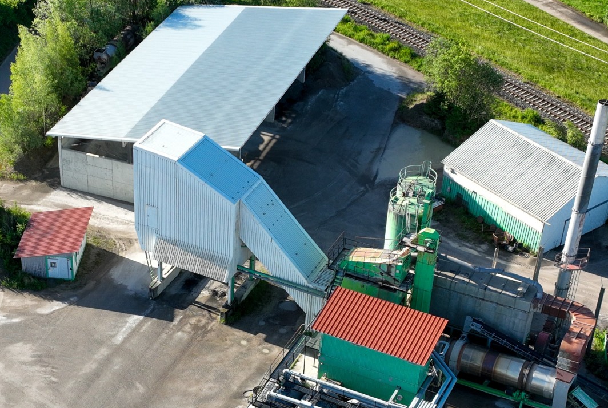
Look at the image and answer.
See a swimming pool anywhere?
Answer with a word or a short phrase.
No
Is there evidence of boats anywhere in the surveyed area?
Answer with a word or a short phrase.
No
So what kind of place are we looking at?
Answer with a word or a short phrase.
industrial area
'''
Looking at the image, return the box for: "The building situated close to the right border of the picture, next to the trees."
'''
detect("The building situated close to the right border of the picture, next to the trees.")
[438,122,608,260]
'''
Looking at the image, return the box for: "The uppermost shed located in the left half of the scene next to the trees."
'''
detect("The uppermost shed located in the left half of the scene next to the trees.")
[46,2,348,200]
